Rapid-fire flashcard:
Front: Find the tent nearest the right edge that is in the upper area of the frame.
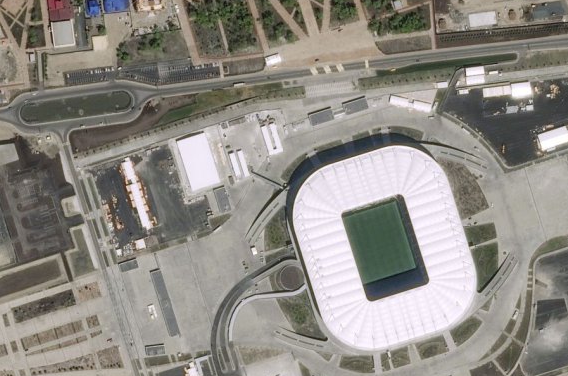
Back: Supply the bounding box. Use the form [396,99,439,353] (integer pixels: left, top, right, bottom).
[536,125,568,151]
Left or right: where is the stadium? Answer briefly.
right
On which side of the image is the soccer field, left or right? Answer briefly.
right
